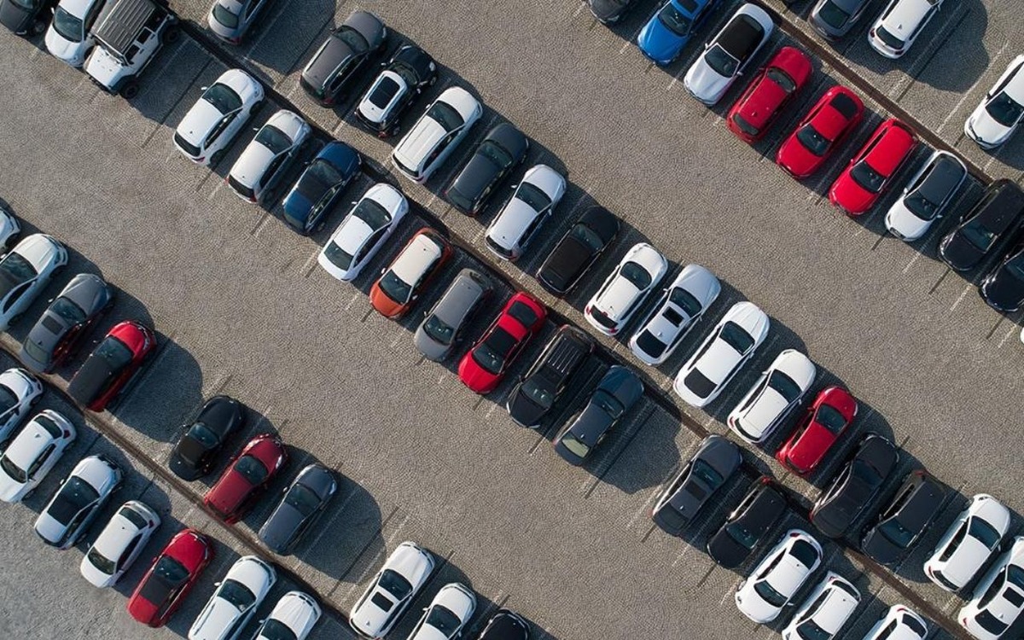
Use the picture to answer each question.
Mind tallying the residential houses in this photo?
none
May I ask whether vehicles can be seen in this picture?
Yes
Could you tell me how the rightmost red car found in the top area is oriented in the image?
diagonally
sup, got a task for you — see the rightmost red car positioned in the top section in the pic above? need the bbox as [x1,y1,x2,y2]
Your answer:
[831,116,921,218]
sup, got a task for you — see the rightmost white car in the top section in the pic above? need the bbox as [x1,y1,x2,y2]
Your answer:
[967,53,1024,152]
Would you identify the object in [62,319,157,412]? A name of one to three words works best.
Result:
car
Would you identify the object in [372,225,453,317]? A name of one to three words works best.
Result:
car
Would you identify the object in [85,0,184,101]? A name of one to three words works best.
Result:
vehicle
